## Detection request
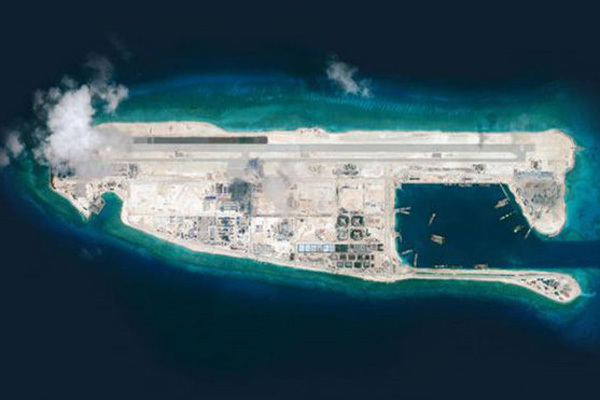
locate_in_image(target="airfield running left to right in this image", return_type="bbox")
[104,137,535,172]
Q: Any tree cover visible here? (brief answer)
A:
No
